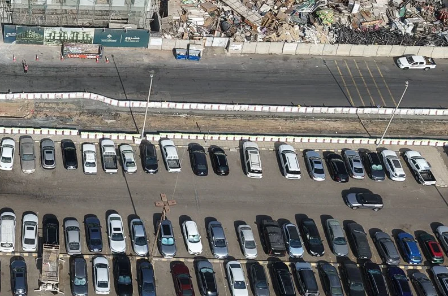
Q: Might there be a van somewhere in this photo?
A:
Yes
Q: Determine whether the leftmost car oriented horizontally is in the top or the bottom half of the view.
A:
bottom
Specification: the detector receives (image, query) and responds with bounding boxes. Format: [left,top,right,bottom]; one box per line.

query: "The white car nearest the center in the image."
[241,142,266,179]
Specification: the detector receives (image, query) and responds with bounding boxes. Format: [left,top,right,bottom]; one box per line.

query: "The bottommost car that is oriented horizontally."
[342,190,388,212]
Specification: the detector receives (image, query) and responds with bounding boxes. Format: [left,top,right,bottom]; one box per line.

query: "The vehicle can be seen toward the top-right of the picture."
[396,54,439,72]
